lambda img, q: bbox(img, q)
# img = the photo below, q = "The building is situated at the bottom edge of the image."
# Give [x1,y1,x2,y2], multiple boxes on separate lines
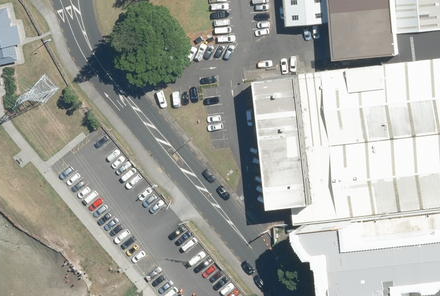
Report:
[289,210,440,296]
